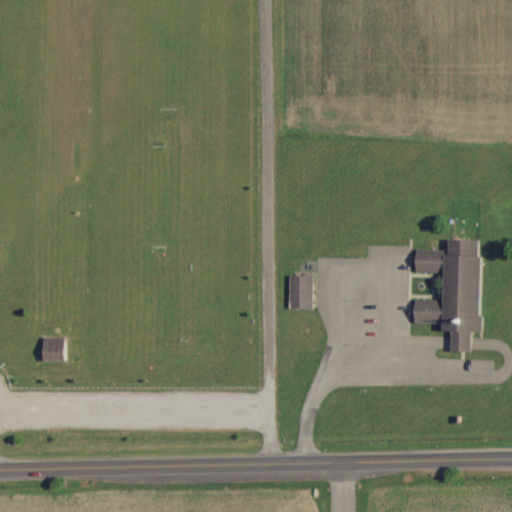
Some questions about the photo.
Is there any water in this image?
No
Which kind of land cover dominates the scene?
grass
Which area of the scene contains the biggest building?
right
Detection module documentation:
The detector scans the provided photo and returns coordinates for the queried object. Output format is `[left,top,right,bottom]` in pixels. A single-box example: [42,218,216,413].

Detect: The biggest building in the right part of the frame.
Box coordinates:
[412,240,482,352]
